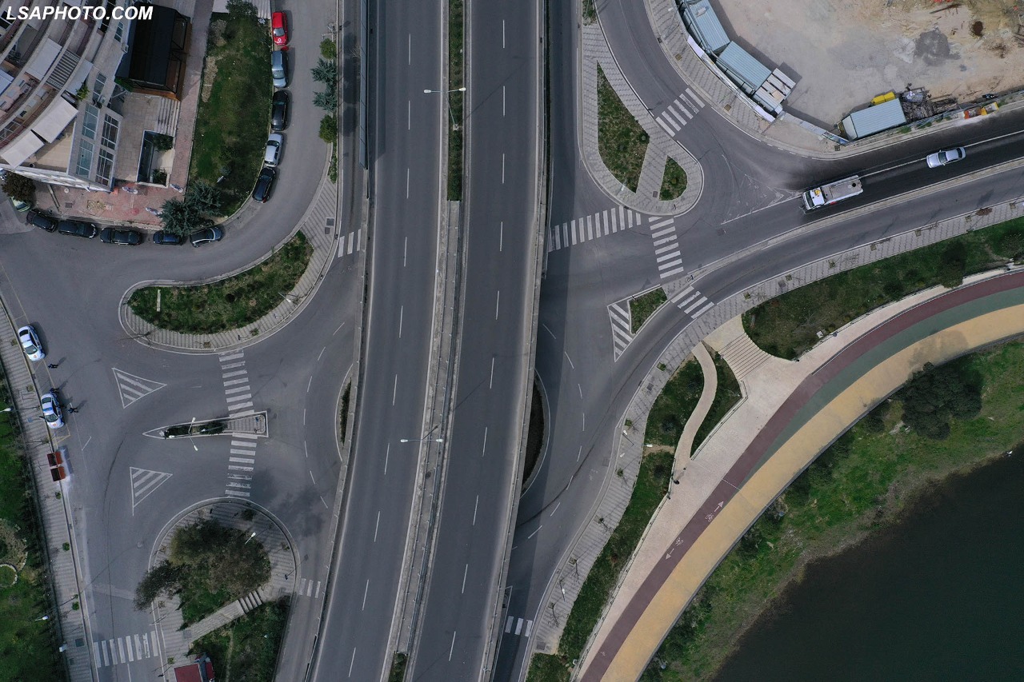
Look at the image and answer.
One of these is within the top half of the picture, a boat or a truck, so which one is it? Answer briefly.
truck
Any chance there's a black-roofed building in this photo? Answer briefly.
Yes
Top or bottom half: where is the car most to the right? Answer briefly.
top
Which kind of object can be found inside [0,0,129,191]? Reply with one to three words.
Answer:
building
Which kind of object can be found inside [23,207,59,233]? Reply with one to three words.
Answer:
car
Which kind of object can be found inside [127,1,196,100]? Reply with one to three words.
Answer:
building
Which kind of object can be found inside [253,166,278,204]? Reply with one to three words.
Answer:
car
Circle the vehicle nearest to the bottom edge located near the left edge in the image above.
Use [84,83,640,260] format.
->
[40,389,67,429]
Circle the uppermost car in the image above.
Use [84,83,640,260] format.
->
[270,11,289,47]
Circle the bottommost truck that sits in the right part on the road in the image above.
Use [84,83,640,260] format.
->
[797,174,867,212]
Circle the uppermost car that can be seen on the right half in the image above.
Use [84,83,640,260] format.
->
[924,144,967,171]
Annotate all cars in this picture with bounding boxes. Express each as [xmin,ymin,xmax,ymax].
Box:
[924,144,967,171]
[253,166,278,204]
[270,11,289,47]
[270,50,290,89]
[5,194,35,217]
[57,219,100,239]
[264,133,284,168]
[153,229,186,246]
[100,227,145,246]
[40,389,67,429]
[23,207,59,233]
[20,324,46,363]
[270,91,290,132]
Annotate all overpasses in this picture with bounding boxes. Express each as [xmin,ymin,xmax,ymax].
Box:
[305,0,547,682]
